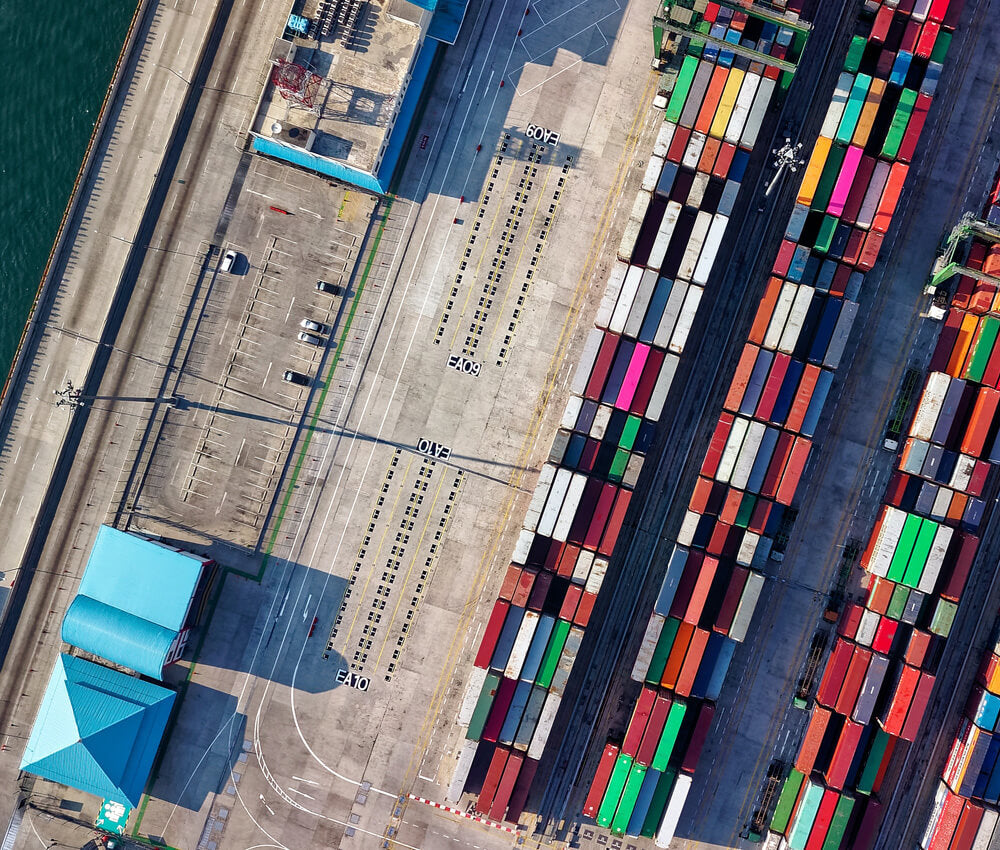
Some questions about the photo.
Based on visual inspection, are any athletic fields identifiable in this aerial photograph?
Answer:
No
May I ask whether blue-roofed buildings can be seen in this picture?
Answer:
Yes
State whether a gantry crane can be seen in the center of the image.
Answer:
No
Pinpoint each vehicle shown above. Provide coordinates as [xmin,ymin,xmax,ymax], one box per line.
[220,249,237,275]
[791,630,830,709]
[283,370,309,386]
[316,280,341,296]
[298,331,322,347]
[743,764,782,843]
[879,373,919,452]
[301,319,325,334]
[651,89,673,113]
[820,544,859,623]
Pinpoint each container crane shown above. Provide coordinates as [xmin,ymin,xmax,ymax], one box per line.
[922,220,1000,290]
[648,0,816,108]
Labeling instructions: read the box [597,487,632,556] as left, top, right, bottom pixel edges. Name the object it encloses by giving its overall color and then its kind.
red shipping container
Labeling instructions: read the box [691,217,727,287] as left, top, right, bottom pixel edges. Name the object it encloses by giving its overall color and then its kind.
white shipping container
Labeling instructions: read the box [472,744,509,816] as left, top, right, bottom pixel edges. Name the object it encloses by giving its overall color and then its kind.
red shipping container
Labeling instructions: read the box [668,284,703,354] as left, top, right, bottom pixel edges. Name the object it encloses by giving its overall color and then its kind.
white shipping container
